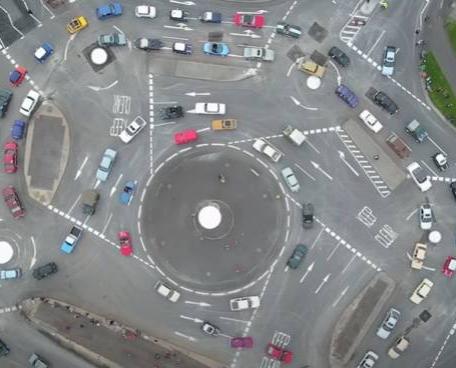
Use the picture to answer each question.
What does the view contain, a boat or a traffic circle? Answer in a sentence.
Of the two, only a traffic circle appears.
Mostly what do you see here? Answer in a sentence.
Most of the picture is covered by paved ground.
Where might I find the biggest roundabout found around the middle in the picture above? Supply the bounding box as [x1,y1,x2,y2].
[138,144,290,296]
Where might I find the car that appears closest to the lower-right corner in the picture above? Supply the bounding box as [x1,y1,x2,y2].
[386,335,410,361]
